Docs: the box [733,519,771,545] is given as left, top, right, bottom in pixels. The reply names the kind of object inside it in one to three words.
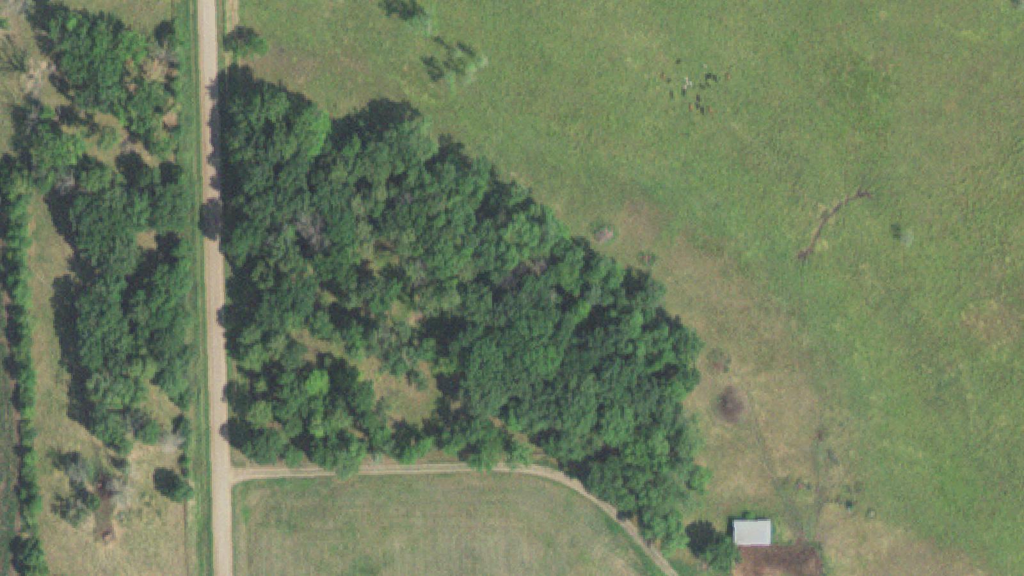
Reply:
shed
